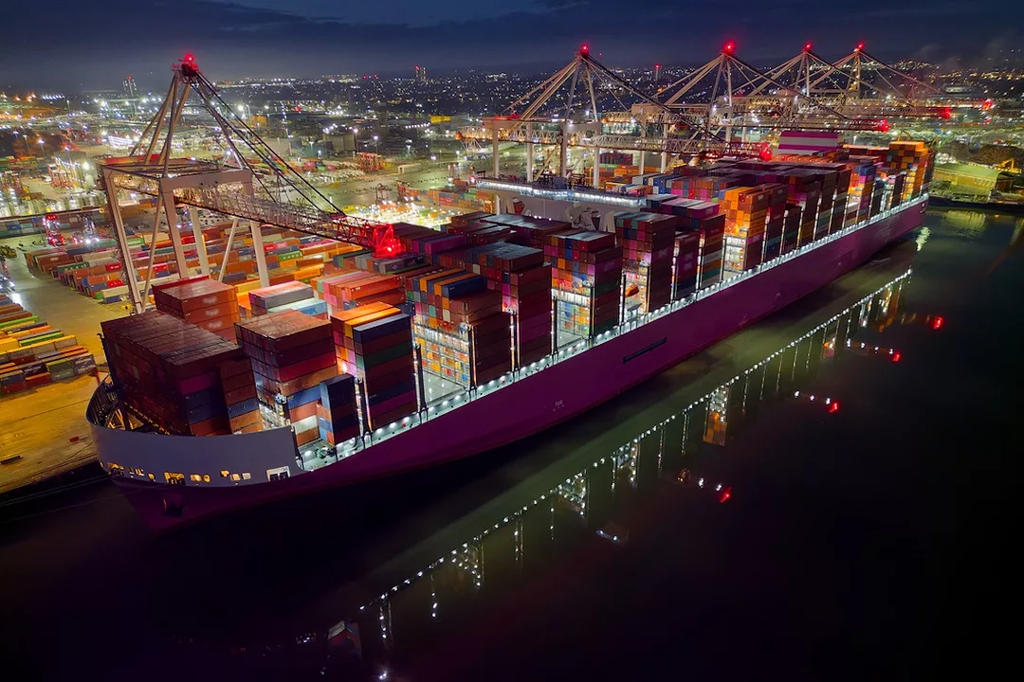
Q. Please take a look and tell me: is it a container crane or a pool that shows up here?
container crane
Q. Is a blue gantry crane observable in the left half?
No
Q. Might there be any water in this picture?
Yes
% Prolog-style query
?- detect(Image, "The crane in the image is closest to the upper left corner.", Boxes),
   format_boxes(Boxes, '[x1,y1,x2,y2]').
[91,55,410,322]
